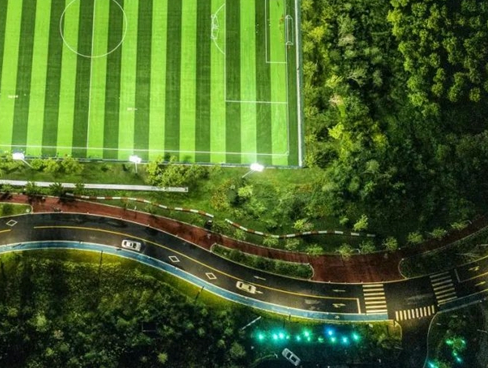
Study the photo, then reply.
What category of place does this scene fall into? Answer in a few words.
sports ground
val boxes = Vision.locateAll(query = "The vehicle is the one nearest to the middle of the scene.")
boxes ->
[237,281,257,294]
